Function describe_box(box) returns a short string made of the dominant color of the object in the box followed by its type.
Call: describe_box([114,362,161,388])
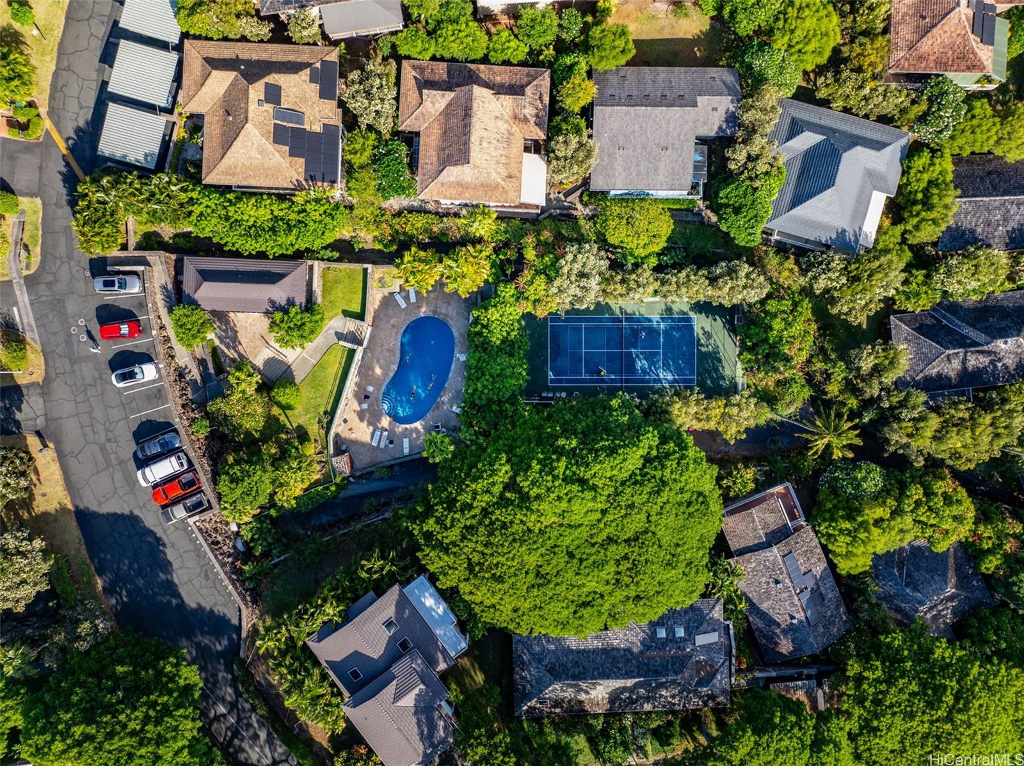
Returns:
white car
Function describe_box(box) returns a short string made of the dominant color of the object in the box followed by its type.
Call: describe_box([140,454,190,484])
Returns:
white van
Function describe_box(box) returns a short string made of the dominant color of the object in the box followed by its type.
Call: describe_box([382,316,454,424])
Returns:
blue swimming pool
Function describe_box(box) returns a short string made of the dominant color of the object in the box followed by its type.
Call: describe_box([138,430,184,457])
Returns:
blue car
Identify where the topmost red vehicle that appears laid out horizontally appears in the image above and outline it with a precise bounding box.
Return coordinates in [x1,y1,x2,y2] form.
[102,320,145,341]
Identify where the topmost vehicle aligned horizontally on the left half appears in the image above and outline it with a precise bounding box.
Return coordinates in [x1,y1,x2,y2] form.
[97,273,144,295]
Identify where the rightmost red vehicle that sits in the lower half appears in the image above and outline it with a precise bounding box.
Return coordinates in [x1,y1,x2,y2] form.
[156,473,205,503]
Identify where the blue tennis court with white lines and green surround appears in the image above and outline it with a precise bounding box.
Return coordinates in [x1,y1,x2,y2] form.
[516,298,742,415]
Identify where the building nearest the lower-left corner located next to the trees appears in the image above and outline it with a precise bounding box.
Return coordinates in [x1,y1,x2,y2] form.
[306,575,468,766]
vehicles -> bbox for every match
[138,430,184,457]
[97,273,144,295]
[102,320,145,341]
[165,493,212,523]
[114,362,161,388]
[140,454,190,484]
[156,473,205,503]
